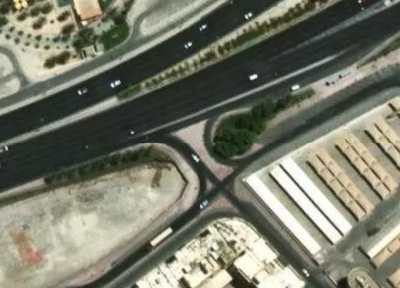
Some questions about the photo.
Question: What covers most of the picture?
paved ground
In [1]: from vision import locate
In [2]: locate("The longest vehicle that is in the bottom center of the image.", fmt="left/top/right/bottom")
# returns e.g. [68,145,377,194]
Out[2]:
[149,227,174,247]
